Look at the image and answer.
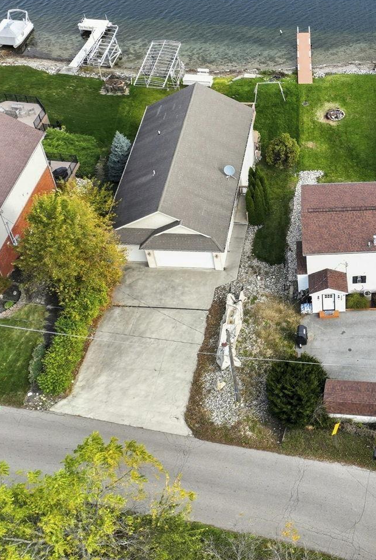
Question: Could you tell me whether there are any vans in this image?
No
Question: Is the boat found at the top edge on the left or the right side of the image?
left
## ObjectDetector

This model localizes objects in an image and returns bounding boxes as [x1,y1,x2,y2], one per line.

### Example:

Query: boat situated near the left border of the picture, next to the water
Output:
[0,9,33,50]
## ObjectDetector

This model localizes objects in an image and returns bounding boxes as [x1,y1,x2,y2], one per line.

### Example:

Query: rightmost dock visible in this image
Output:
[296,24,313,85]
